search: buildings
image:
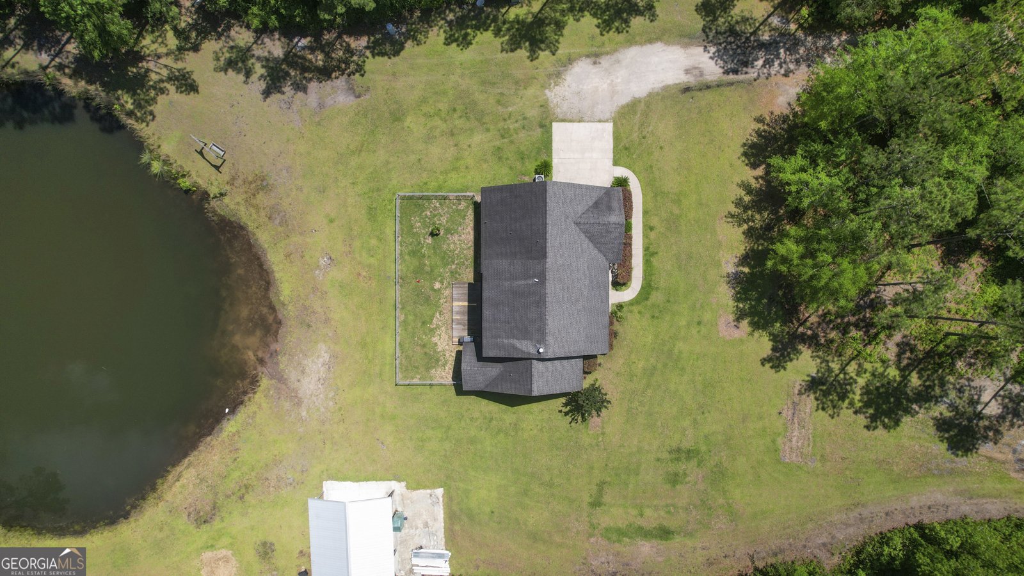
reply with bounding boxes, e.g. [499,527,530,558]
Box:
[308,489,398,576]
[461,181,625,395]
